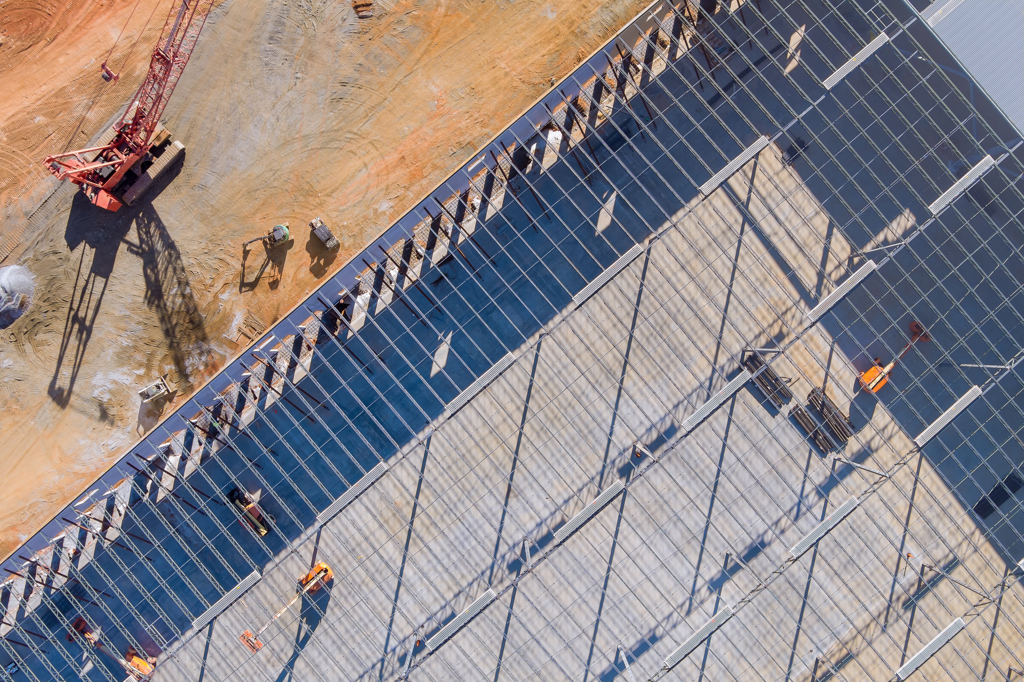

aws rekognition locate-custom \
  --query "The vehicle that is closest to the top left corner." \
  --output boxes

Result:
[243,222,295,250]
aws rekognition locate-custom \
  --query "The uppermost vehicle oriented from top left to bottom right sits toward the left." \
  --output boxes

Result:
[307,213,339,249]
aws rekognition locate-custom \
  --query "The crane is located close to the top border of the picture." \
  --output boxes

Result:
[37,0,211,212]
